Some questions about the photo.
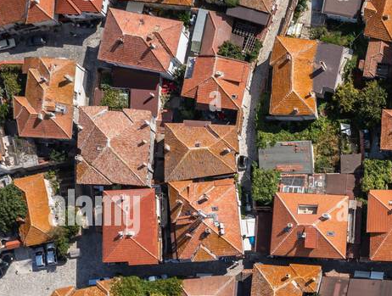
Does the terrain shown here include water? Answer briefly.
No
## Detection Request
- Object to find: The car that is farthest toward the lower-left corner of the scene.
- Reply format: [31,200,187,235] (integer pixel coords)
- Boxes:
[0,257,14,278]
